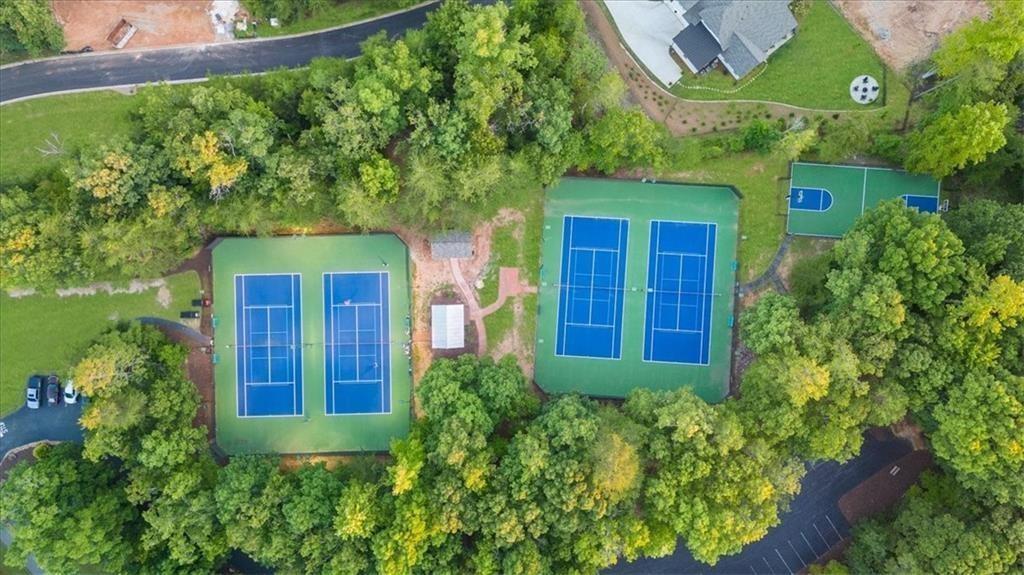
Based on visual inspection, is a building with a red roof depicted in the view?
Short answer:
No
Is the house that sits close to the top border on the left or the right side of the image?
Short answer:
right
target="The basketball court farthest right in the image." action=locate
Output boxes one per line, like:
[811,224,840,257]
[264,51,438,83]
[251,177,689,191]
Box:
[786,162,942,248]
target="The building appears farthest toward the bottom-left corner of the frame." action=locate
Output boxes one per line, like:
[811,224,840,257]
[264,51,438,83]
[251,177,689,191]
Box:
[431,304,465,350]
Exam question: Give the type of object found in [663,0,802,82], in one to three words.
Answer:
house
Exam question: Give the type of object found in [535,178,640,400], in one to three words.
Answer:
tennis court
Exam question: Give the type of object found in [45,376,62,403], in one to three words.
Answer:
car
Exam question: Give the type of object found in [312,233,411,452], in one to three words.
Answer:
tennis court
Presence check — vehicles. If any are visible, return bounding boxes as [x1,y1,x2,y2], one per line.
[182,310,201,318]
[191,299,210,306]
[26,375,45,407]
[64,378,79,405]
[45,376,62,403]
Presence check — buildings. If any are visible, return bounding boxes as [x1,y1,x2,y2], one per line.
[431,304,465,350]
[663,0,802,82]
[431,234,472,259]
